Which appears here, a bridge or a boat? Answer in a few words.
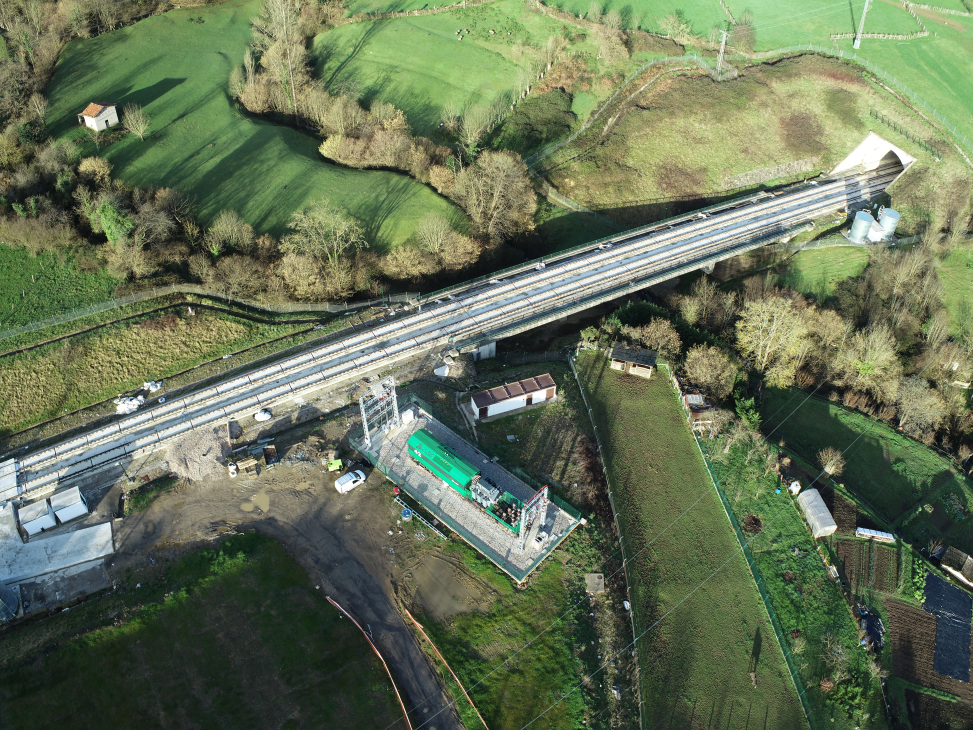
bridge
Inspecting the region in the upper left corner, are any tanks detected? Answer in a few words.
No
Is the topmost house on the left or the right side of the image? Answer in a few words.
left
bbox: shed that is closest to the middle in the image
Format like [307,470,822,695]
[470,370,562,417]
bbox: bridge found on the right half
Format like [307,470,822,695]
[401,192,809,361]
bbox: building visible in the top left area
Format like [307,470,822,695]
[69,94,119,131]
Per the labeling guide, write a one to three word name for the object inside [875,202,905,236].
storage tank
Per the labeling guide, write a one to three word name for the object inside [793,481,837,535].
greenhouse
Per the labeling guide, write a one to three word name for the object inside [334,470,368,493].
vehicle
